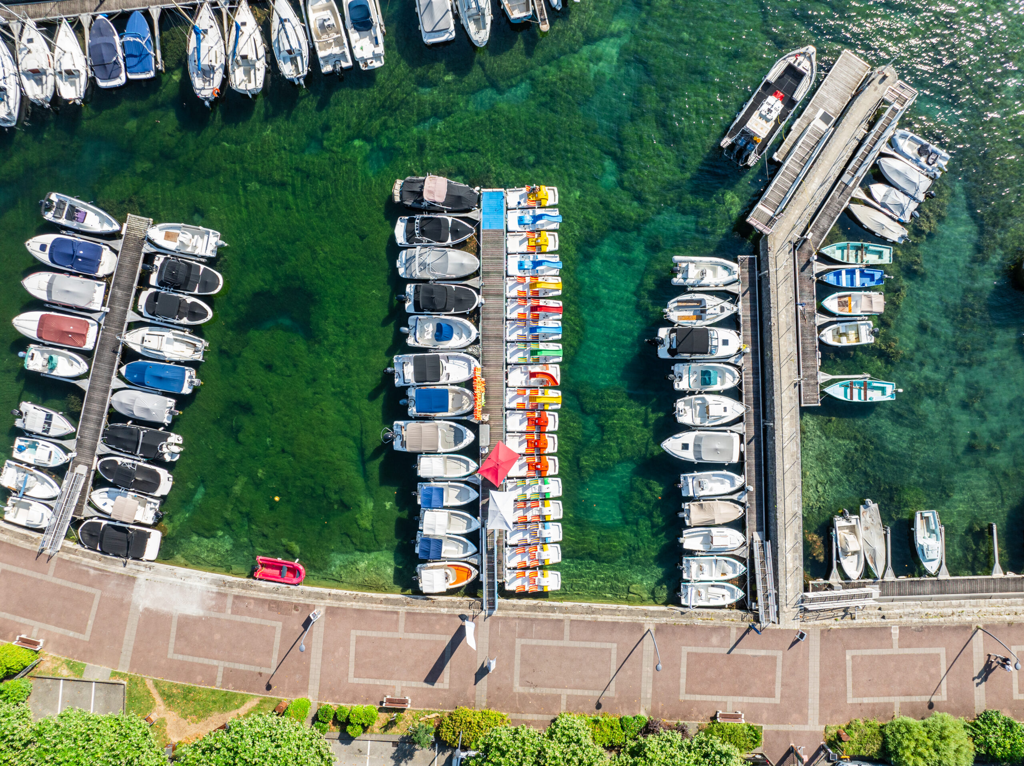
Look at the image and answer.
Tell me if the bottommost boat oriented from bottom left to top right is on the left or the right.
right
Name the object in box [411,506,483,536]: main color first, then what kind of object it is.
white boat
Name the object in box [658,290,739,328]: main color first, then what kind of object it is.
white boat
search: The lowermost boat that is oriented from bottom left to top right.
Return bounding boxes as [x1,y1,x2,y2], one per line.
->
[717,43,816,176]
